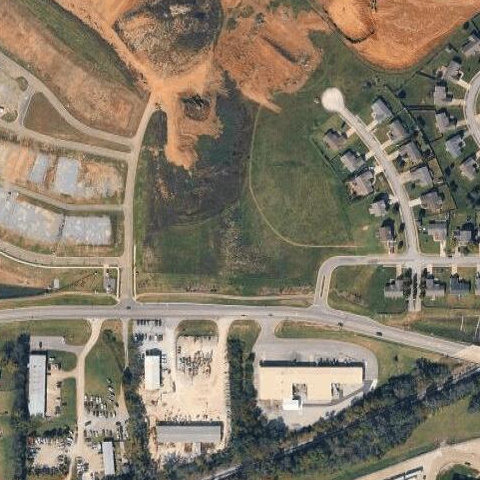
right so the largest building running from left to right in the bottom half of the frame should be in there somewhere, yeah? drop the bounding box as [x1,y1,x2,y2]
[260,366,364,400]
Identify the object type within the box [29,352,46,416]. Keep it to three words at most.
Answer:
building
